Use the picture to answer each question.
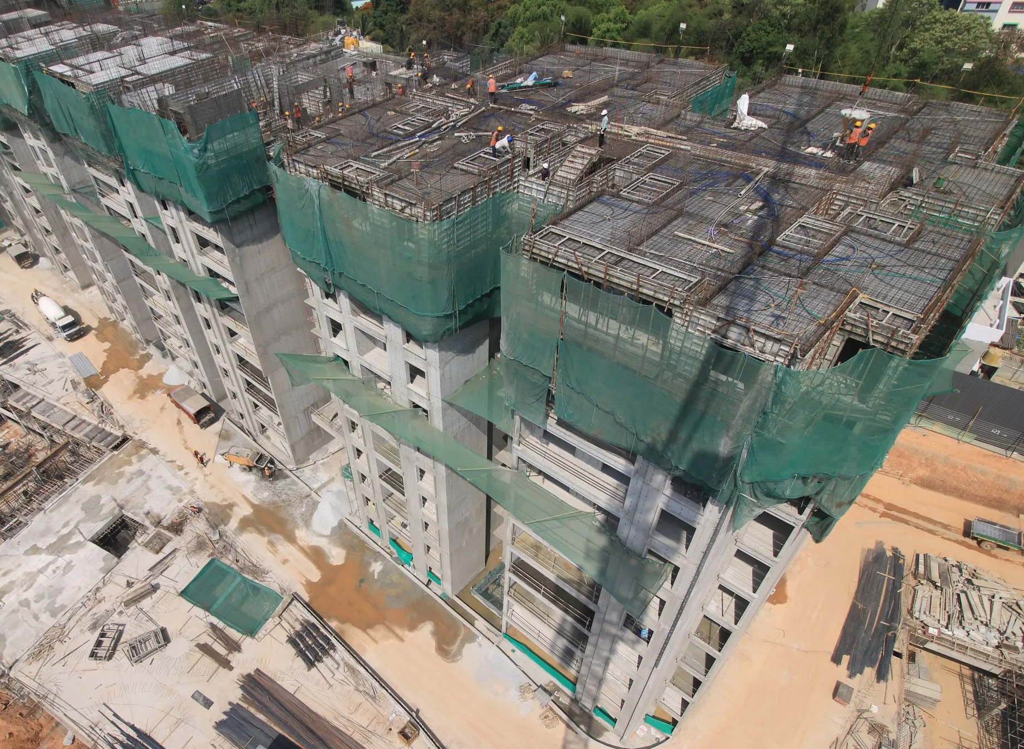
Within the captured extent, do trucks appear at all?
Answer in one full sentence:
Yes, the photo shows a truck.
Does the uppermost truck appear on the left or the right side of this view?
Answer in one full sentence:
You can find the uppermost truck on the left side of the picture.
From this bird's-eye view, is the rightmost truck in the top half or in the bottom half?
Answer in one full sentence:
The rightmost truck is in the bottom half of the image.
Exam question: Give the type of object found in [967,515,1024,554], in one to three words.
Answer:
truck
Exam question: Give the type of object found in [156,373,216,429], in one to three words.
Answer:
truck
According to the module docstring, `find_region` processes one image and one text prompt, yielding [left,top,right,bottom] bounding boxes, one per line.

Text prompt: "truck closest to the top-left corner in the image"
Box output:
[0,230,32,267]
